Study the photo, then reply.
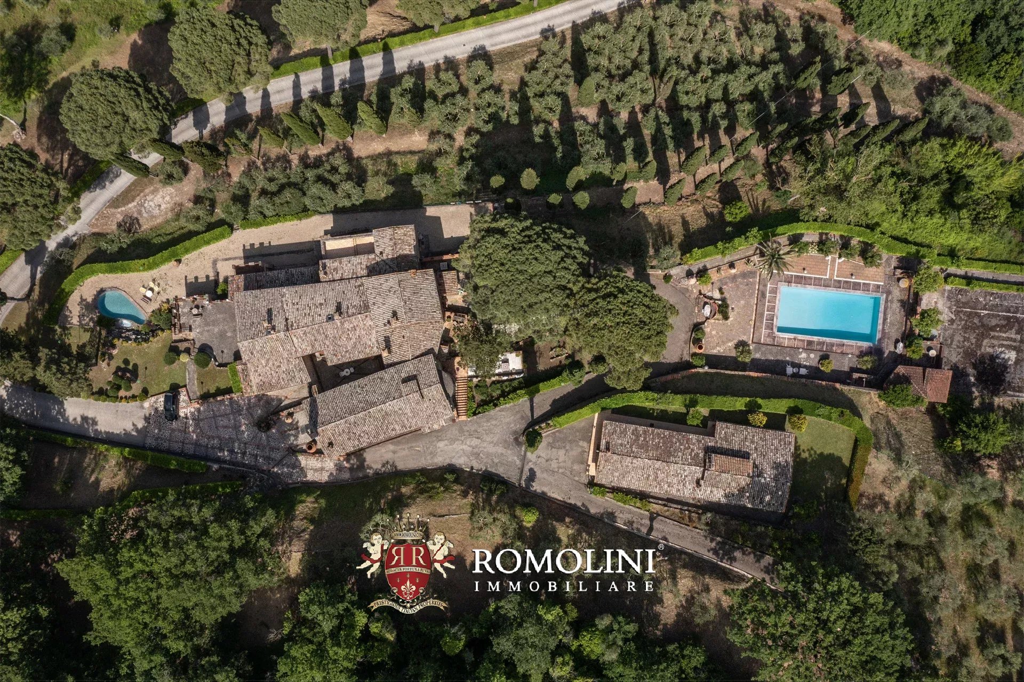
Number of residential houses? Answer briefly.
2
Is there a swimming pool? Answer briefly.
Yes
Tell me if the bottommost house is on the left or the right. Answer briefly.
right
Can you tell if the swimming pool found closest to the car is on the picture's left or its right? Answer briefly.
left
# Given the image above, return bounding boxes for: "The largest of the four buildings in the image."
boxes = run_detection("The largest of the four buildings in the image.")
[173,225,461,399]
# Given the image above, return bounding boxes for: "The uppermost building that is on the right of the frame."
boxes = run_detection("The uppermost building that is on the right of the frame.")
[879,366,953,403]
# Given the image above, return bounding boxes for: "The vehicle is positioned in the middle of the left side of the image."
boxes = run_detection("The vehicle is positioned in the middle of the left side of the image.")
[159,393,177,423]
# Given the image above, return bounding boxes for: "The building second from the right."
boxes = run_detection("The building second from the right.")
[595,420,795,514]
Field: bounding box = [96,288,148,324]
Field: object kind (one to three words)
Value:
swimming pool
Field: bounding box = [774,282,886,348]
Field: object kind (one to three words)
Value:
swimming pool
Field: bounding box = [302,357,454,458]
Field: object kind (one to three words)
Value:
house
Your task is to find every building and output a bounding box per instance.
[879,366,953,403]
[173,225,461,399]
[595,420,795,514]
